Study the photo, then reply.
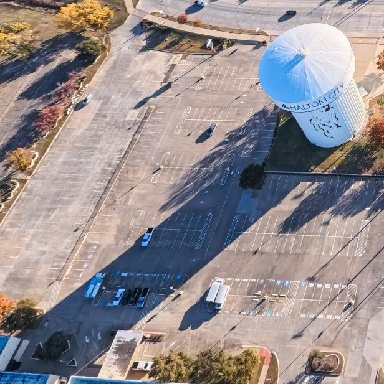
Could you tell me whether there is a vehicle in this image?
Yes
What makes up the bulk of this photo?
paved ground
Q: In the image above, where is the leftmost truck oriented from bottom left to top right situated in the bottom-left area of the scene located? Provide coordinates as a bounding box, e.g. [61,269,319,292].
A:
[77,271,106,300]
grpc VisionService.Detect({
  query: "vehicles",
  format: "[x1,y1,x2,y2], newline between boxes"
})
[140,228,153,247]
[84,93,95,105]
[77,271,106,300]
[200,277,223,306]
[121,289,132,307]
[212,279,231,310]
[128,288,140,307]
[193,0,208,8]
[130,361,153,370]
[137,286,151,308]
[112,288,125,307]
[207,123,216,135]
